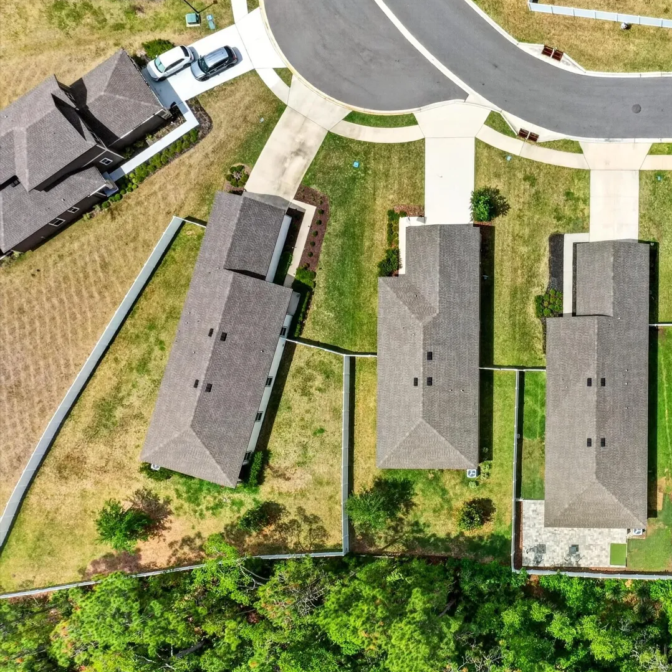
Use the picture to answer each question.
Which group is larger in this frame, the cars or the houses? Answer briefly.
houses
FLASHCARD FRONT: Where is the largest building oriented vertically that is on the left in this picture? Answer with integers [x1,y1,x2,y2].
[140,190,300,489]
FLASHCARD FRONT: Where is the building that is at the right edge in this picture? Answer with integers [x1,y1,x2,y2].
[545,241,649,529]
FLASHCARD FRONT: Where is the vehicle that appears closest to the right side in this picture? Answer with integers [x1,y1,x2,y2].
[192,44,240,83]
